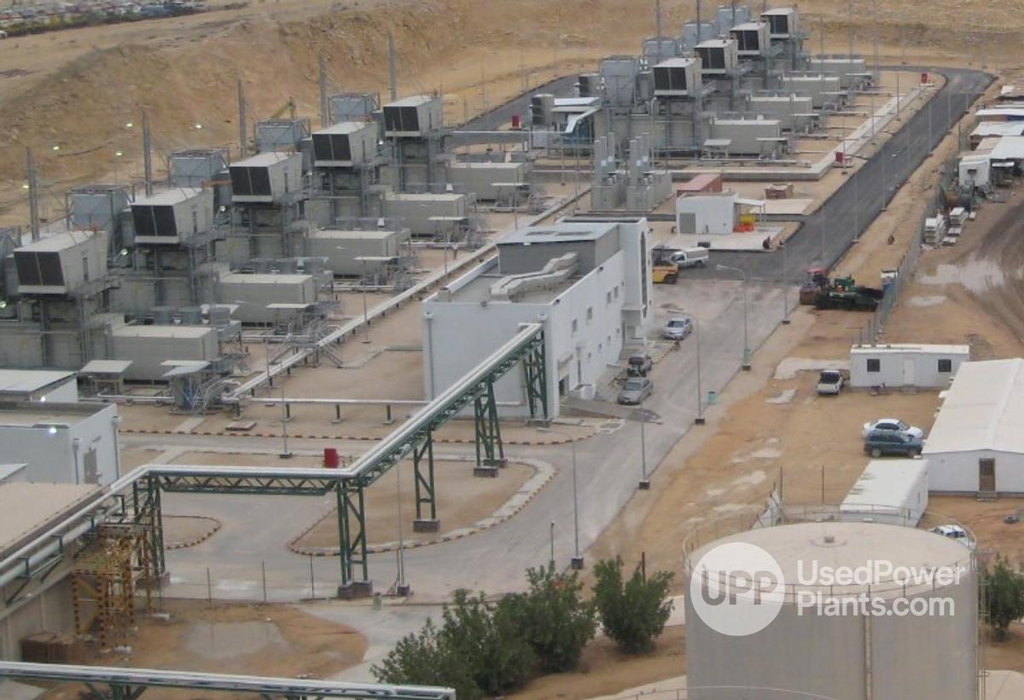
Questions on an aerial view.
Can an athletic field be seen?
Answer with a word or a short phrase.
No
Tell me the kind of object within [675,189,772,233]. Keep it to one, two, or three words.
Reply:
building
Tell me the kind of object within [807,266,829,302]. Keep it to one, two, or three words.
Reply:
work vehicle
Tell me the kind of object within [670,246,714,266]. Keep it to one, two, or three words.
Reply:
vehicle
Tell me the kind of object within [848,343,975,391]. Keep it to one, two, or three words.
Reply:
building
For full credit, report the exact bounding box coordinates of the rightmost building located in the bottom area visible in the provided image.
[922,361,1024,498]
